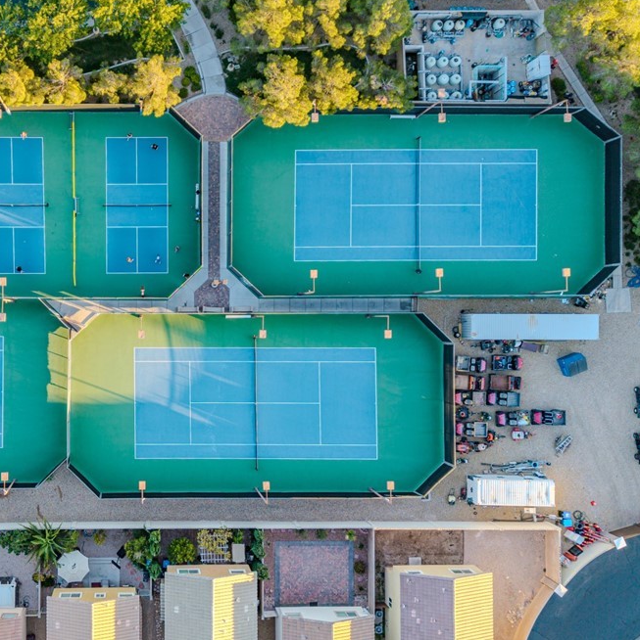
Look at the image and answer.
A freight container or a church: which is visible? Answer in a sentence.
Visible in the photo is a freight container.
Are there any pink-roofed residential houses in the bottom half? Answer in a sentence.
No, the scene shows no pink-roofed residential house in the bottom half.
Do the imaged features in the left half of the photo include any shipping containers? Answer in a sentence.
No, the scene shows no shipping container in the left half of the photo.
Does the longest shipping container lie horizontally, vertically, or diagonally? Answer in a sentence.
Seen from above, the longest shipping container lies horizontally.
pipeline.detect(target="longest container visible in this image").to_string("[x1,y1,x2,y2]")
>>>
[460,314,599,340]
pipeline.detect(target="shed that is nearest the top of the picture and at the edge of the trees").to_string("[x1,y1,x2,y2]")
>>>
[518,53,554,85]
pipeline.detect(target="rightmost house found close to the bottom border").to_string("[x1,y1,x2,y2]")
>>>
[390,568,496,640]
